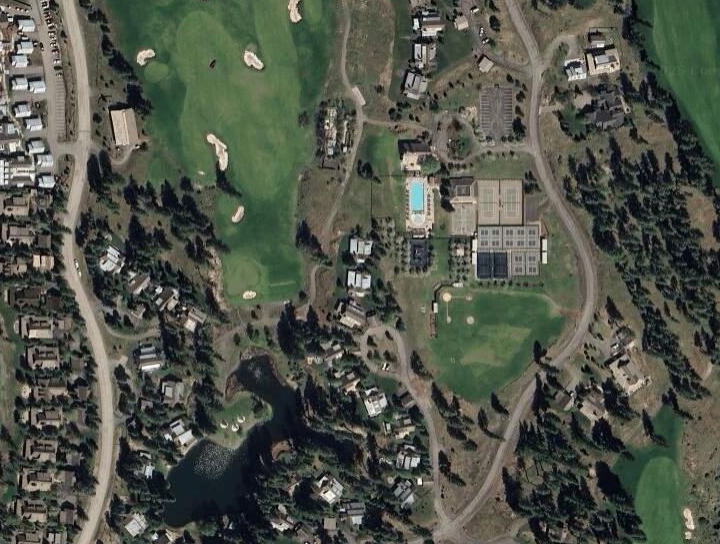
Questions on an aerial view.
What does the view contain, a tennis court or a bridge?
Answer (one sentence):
Of the two, only a tennis court appears.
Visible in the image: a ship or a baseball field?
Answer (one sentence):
The one in the frame is a baseball field.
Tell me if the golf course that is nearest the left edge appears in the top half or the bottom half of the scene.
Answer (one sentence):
Seen from above, the golf course that is nearest the left edge lies in the top half of the view.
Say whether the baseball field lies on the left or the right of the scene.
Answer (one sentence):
You can find the baseball field on the right side of the picture.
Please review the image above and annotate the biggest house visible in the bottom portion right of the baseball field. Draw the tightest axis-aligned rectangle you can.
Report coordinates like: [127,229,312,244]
[603,354,650,393]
